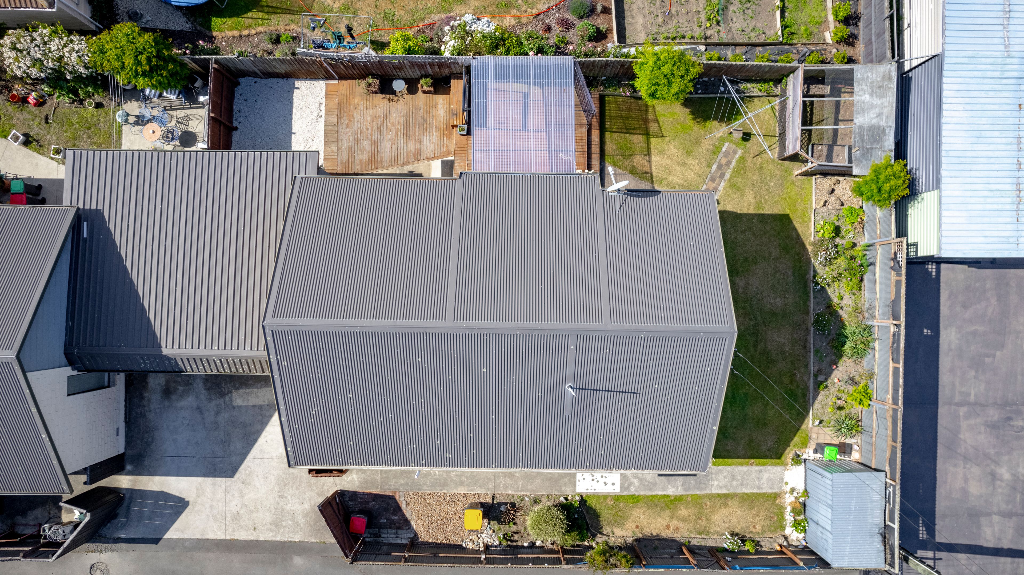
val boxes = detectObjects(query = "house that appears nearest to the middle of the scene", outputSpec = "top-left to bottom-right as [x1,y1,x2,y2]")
[262,167,738,479]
